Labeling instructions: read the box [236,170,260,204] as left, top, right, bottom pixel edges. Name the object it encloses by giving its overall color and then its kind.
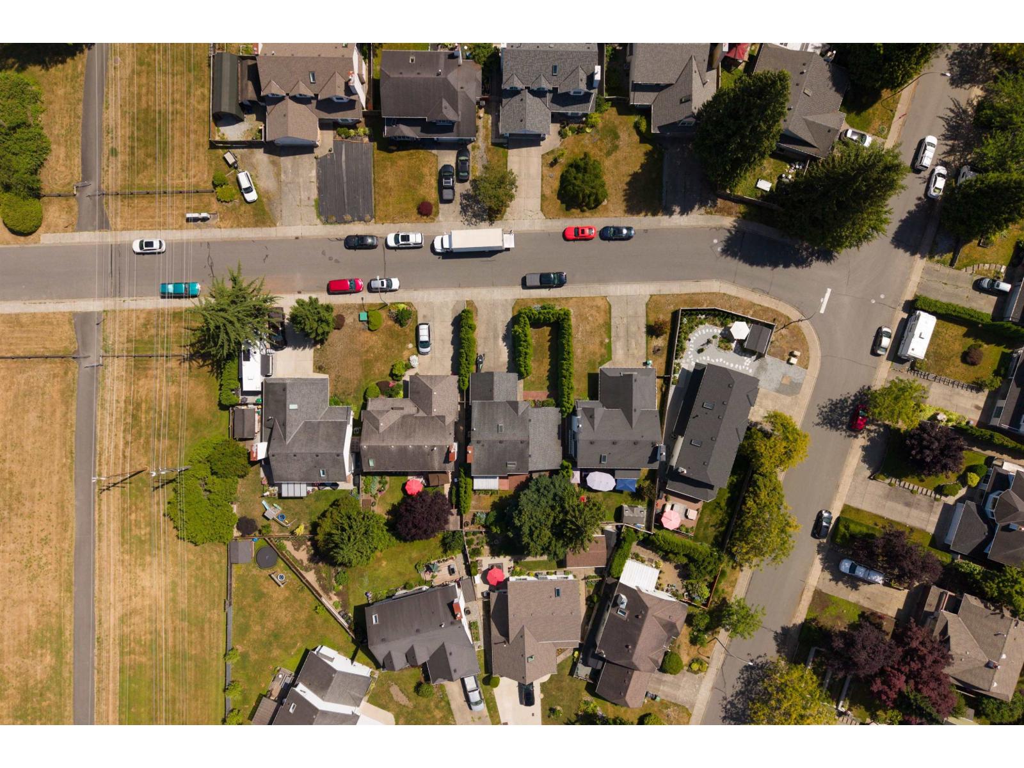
white car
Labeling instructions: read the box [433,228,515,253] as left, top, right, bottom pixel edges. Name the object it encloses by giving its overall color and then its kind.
white truck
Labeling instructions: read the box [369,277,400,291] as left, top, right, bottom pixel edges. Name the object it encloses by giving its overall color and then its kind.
white car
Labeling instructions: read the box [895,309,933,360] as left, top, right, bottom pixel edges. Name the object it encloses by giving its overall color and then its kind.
white camper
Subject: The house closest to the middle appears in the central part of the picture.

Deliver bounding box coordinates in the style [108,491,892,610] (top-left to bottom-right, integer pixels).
[466,372,564,477]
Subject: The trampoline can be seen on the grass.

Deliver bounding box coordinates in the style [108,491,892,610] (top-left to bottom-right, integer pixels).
[254,547,274,569]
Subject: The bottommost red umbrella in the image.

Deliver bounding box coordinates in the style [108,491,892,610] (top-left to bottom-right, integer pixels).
[487,567,504,585]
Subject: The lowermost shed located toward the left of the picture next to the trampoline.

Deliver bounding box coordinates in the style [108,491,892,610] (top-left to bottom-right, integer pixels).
[231,538,258,565]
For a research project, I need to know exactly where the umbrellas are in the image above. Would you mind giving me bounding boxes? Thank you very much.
[487,567,504,585]
[587,472,615,491]
[405,478,422,494]
[729,322,749,339]
[661,508,681,528]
